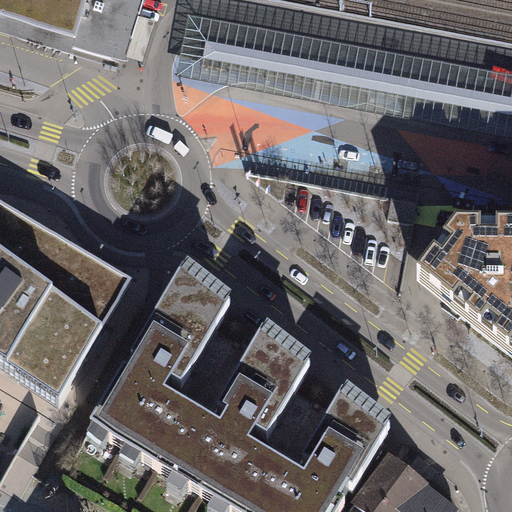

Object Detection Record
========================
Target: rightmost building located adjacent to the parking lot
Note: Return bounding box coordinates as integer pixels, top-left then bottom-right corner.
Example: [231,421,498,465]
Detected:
[416,210,512,357]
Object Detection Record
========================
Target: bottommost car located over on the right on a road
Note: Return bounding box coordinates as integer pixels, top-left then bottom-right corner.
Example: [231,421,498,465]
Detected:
[448,431,469,451]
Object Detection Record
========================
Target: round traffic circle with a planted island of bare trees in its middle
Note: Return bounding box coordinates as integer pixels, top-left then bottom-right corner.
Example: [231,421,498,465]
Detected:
[76,114,210,248]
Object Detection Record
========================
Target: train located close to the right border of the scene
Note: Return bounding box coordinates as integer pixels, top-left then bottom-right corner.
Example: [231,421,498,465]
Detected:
[490,66,512,88]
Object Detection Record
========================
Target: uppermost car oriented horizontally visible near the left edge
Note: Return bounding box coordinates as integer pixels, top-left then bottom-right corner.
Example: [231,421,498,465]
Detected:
[8,115,34,130]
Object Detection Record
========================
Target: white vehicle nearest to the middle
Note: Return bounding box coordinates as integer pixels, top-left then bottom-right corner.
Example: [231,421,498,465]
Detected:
[288,267,311,287]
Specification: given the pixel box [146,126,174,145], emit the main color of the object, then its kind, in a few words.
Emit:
white vehicle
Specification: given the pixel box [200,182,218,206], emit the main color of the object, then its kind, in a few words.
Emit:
black car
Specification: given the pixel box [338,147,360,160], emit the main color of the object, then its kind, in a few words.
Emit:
white vehicle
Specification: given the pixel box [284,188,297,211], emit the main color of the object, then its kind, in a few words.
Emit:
black vehicle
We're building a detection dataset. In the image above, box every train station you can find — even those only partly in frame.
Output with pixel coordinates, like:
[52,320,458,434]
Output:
[167,0,512,136]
